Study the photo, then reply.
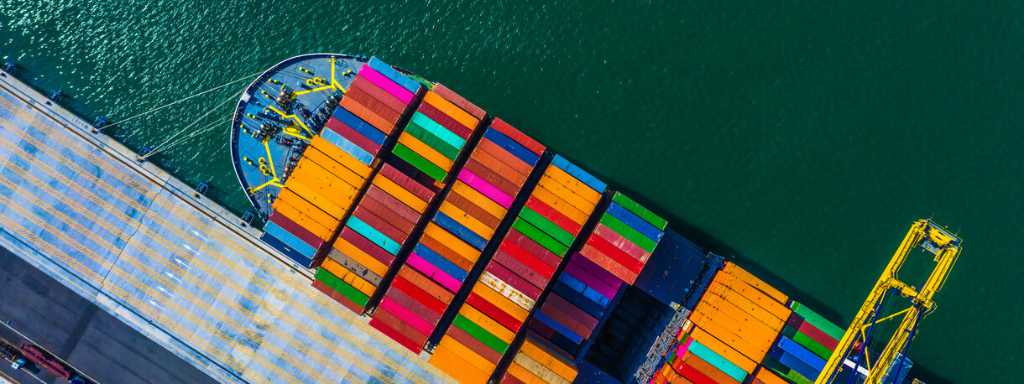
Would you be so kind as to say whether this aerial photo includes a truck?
Yes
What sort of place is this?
port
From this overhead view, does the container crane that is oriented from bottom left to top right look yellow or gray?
yellow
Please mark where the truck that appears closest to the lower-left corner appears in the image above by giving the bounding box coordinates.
[0,346,28,371]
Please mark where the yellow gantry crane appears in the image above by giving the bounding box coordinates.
[816,210,966,384]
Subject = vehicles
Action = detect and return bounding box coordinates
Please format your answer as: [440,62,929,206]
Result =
[0,346,28,371]
[21,346,88,384]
